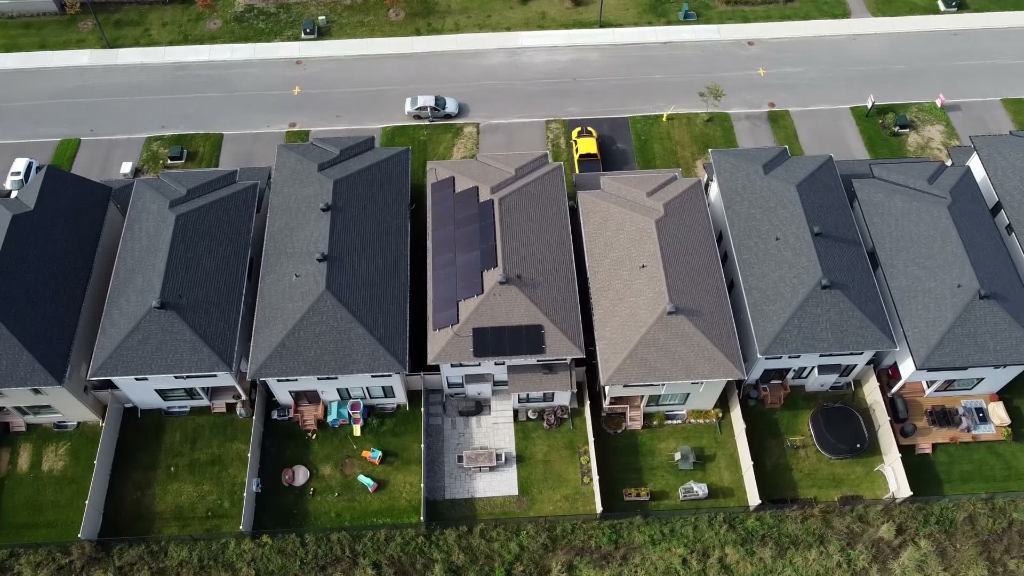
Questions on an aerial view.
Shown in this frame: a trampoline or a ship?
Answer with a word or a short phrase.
trampoline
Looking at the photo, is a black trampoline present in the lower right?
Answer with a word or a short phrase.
Yes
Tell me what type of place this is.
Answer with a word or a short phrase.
residential area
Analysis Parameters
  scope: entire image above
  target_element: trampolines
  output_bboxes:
[805,405,872,462]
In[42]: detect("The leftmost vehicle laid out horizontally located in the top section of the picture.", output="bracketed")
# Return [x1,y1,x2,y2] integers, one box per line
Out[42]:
[405,95,458,121]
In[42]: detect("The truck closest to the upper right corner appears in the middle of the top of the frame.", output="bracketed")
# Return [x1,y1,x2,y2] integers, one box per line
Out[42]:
[571,127,603,174]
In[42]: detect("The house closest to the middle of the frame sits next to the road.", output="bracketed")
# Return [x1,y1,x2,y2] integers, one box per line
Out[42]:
[426,151,585,411]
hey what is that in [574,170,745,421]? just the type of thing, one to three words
house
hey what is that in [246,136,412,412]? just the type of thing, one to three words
house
